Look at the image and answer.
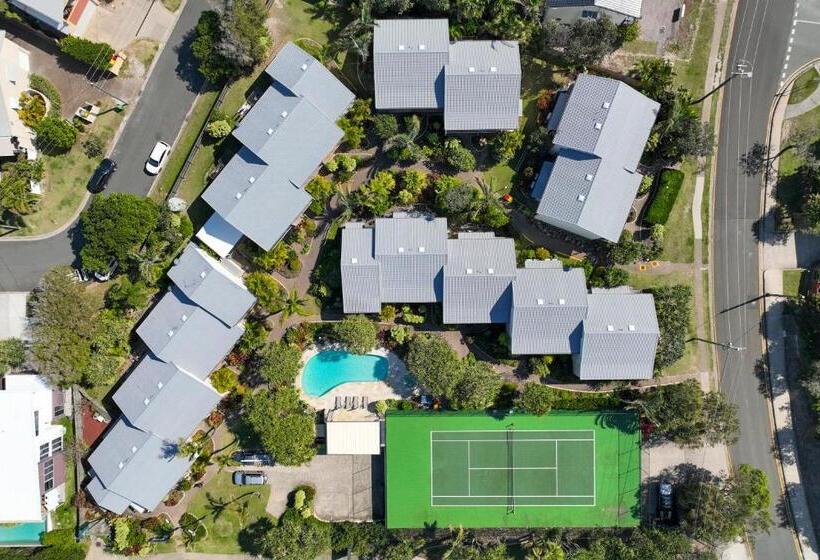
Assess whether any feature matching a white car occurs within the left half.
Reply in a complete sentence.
Yes, a white car appears within the left half.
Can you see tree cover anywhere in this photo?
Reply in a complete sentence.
Yes, tree cover shows up in the scene.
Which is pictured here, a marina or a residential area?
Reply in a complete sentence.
What you see here is a residential area.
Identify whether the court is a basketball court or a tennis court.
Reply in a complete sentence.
Specifically, the court is a tennis court.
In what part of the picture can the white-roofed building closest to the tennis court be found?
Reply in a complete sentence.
The white-roofed building closest to the tennis court is located in the bottom region of the scene.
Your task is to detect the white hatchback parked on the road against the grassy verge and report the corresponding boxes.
[147,142,171,174]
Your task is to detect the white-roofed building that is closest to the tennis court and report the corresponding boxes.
[328,418,380,454]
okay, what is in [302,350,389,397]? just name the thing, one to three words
swimming pool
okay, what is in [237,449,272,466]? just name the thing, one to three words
car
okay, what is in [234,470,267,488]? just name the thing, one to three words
car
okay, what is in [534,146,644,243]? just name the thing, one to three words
house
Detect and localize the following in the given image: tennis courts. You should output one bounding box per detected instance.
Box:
[385,409,650,539]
